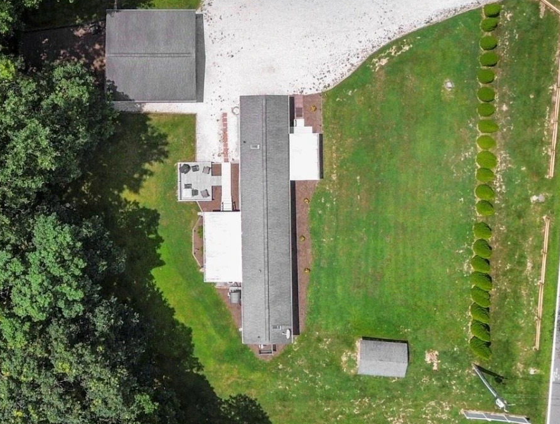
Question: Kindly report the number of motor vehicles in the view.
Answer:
none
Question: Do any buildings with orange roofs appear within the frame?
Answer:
No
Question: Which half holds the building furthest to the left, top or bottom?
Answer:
top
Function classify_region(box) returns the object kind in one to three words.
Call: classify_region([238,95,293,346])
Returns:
house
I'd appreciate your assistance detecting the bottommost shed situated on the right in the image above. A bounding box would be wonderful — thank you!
[356,335,407,378]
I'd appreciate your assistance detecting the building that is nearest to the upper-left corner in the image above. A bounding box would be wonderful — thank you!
[103,8,197,103]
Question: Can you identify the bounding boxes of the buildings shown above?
[356,335,407,378]
[238,95,293,346]
[103,8,197,103]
